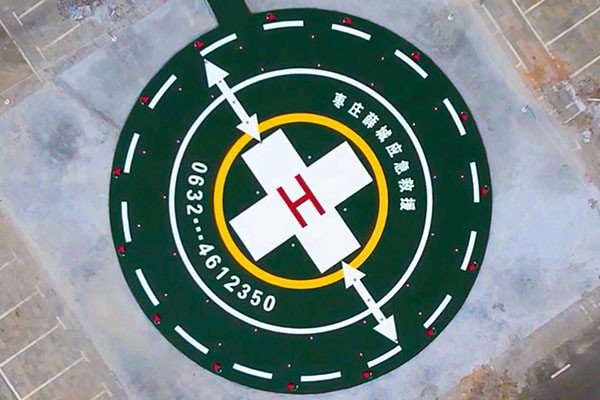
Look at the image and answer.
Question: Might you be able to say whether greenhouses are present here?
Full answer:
No, there's no greenhouse here.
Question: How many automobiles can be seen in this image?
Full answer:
There are no automobiles in the image.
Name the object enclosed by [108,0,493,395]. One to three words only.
helipad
